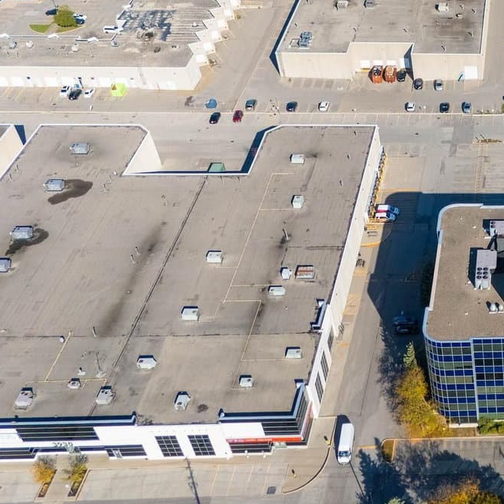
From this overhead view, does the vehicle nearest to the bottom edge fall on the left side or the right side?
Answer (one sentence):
You can find the vehicle nearest to the bottom edge on the right side of the picture.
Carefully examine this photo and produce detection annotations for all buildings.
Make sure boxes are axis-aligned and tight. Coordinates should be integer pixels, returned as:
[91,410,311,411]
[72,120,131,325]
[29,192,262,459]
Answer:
[423,204,504,425]
[0,0,241,88]
[0,125,390,459]
[275,0,490,79]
